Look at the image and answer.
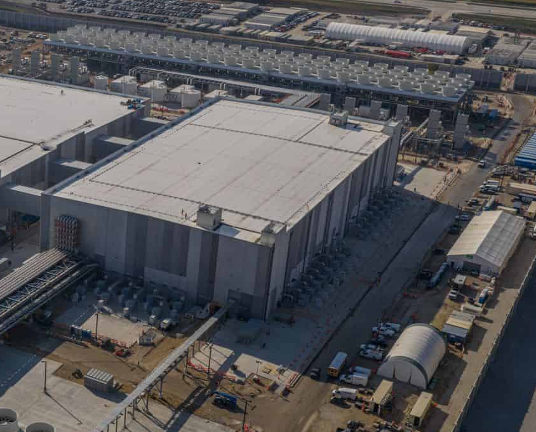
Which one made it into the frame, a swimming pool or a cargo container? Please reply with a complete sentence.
This aerial view contains a cargo container.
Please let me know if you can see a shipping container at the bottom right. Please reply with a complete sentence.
Yes, a shipping container appears at the bottom right.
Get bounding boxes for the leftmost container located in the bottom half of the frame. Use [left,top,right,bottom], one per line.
[369,380,395,413]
